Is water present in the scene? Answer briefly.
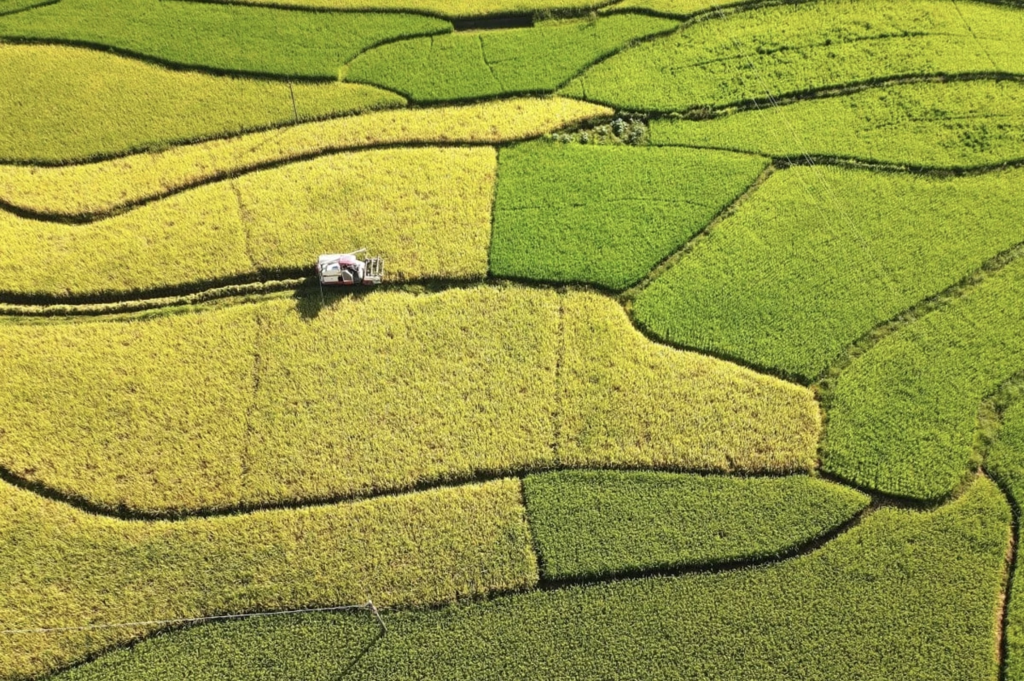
No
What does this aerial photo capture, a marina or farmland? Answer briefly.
farmland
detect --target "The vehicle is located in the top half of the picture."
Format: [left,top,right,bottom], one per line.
[318,246,386,289]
